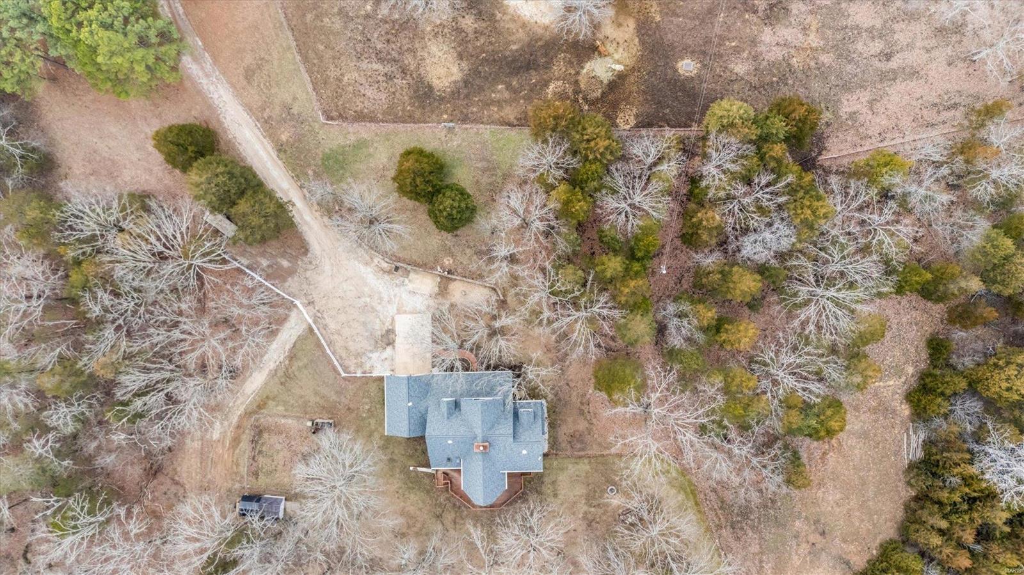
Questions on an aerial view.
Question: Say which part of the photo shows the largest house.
bottom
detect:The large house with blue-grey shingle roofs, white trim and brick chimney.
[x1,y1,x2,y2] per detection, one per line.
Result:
[384,371,546,510]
